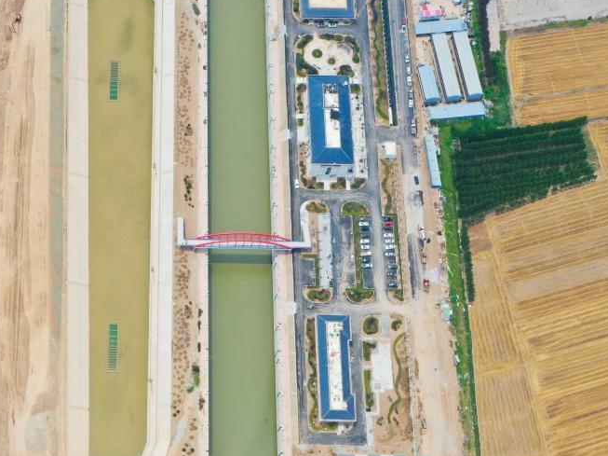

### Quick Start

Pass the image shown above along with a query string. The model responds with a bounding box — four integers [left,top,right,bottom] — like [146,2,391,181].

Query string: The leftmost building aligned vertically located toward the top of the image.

[308,75,354,167]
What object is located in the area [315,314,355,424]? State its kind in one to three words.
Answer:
building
